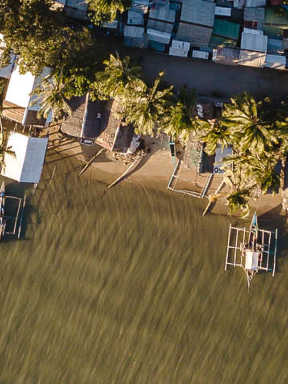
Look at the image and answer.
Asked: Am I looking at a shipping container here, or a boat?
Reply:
boat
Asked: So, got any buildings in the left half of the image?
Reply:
Yes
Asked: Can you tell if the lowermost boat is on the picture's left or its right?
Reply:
right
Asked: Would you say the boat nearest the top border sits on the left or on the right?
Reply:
right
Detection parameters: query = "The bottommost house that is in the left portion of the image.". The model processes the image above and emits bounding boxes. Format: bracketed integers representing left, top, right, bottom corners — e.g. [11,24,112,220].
[1,129,48,183]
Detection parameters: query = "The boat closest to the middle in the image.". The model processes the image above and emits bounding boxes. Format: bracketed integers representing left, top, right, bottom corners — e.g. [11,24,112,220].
[168,134,212,197]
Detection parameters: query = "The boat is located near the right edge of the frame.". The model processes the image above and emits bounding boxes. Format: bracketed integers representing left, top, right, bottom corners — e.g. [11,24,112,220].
[225,209,277,291]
